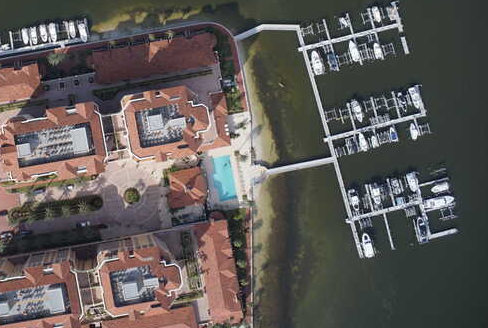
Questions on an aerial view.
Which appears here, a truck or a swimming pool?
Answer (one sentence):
Of the two, only a swimming pool appears.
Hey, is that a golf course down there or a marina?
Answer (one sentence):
The area seen from above is a marina.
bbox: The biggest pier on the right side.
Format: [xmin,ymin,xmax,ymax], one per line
[232,3,459,258]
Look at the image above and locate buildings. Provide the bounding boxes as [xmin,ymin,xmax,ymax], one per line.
[94,34,220,84]
[193,218,244,324]
[195,91,231,155]
[0,244,84,328]
[2,97,108,182]
[169,167,209,223]
[99,240,182,316]
[121,82,210,158]
[0,64,42,102]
